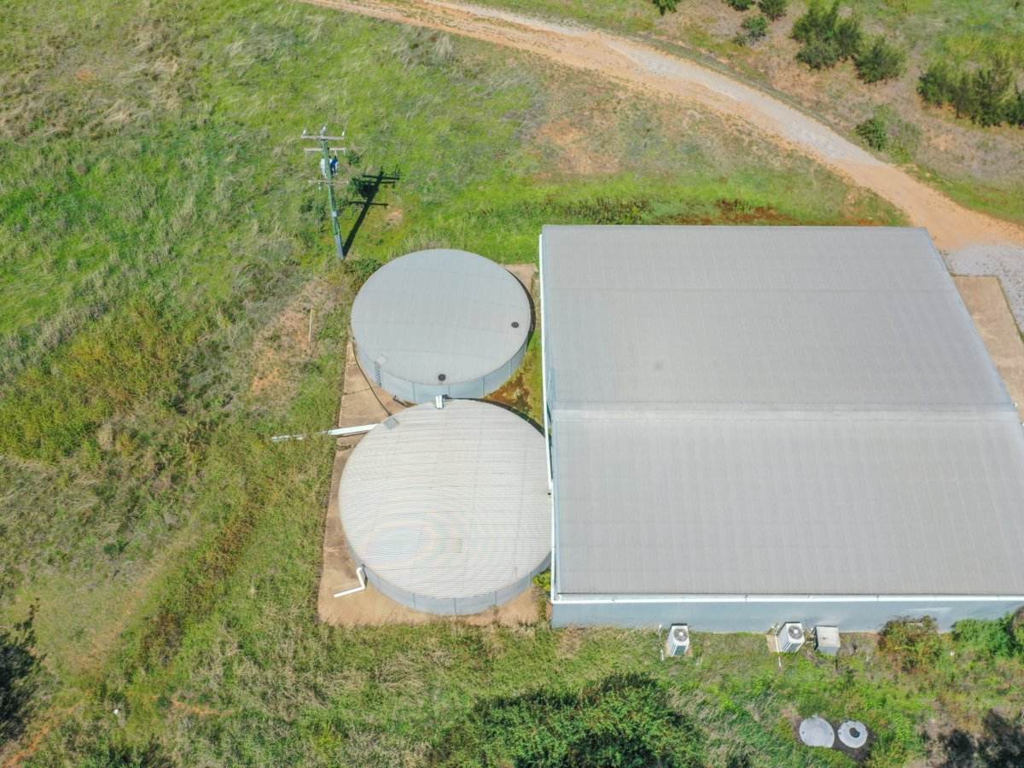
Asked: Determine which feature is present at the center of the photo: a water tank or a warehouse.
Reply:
water tank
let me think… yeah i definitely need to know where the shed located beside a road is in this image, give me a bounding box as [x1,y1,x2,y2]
[538,225,1024,631]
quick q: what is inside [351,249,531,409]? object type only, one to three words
water tank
